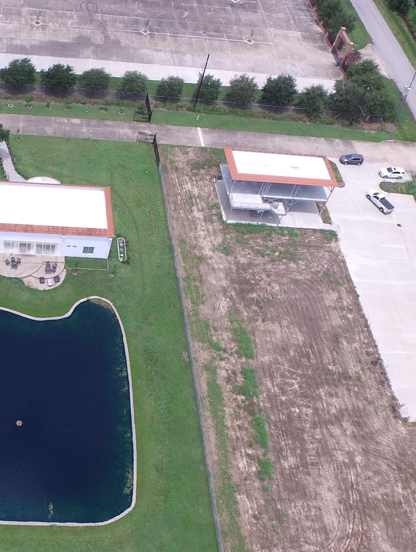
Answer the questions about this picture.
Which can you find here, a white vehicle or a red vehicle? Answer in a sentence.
Visible in the photo is a white vehicle.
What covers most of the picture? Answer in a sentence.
The largest share of the image is taken up by paved ground.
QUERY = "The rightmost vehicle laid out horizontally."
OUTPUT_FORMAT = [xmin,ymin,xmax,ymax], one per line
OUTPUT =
[378,165,409,179]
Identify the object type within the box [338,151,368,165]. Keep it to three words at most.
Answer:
car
